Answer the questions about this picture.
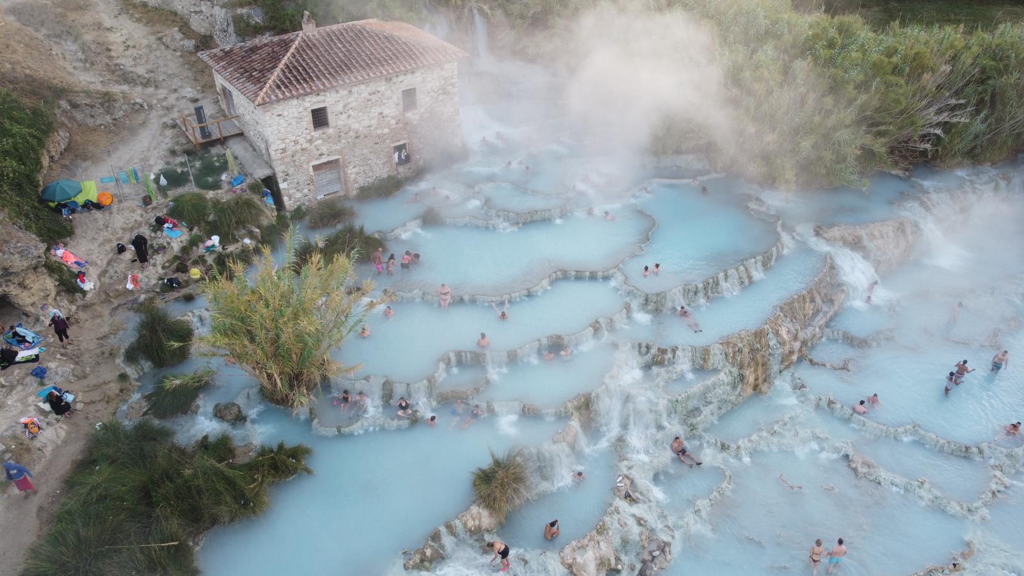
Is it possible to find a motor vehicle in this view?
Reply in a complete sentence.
No, no motor vehicle is visible in the view.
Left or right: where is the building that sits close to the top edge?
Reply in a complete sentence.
It is on the left.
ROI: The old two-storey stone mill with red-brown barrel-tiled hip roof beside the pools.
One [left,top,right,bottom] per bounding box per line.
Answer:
[185,16,470,211]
